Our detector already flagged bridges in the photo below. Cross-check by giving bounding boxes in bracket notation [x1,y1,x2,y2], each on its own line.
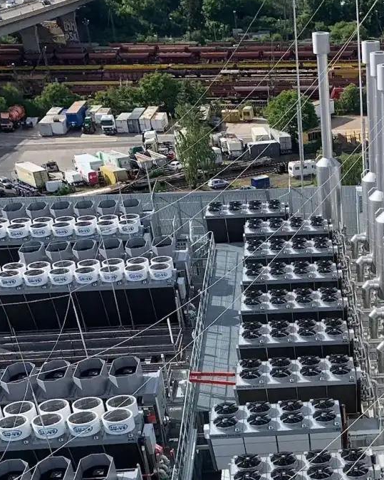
[0,0,92,46]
